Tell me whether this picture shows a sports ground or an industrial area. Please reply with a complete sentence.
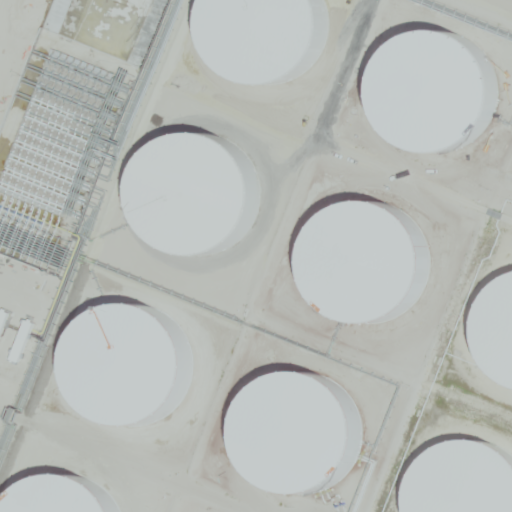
It's an industrial area.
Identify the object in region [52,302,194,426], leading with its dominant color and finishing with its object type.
white storage tank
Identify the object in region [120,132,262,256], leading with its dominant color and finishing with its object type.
white storage tank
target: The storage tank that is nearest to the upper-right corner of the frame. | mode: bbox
[360,30,500,154]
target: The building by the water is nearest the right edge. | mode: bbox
[42,0,74,30]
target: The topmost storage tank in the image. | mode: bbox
[188,0,329,86]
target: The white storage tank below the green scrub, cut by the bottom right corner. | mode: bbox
[397,438,512,512]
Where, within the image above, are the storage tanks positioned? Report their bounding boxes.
[292,200,432,324]
[222,370,364,495]
[52,302,194,426]
[397,438,512,512]
[360,30,500,154]
[188,0,329,86]
[120,132,262,256]
[465,270,512,389]
[0,471,122,512]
